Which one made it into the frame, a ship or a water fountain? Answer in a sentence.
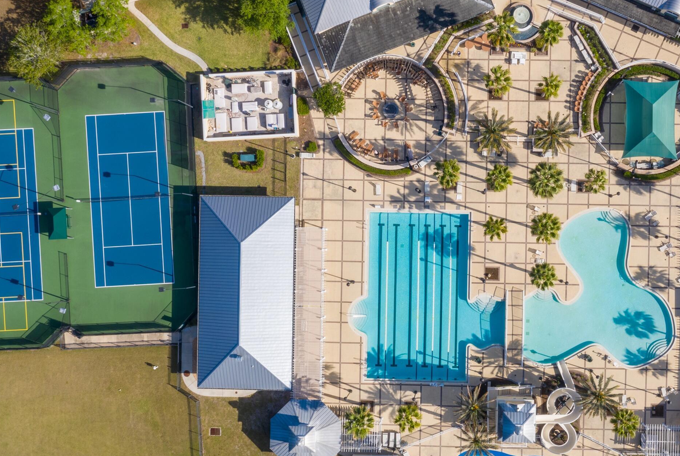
Of the two, only a water fountain appears.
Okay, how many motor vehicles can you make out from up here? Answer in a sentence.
There are no motor vehicles in this view.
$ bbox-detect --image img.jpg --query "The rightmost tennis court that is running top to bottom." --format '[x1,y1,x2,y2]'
[58,65,194,333]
